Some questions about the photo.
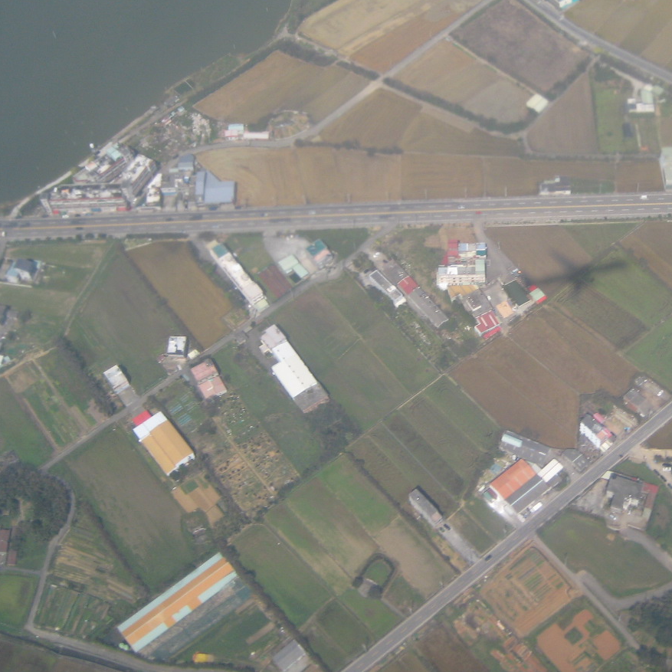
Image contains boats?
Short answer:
No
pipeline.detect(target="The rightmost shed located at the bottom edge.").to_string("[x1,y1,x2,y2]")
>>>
[274,642,305,672]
